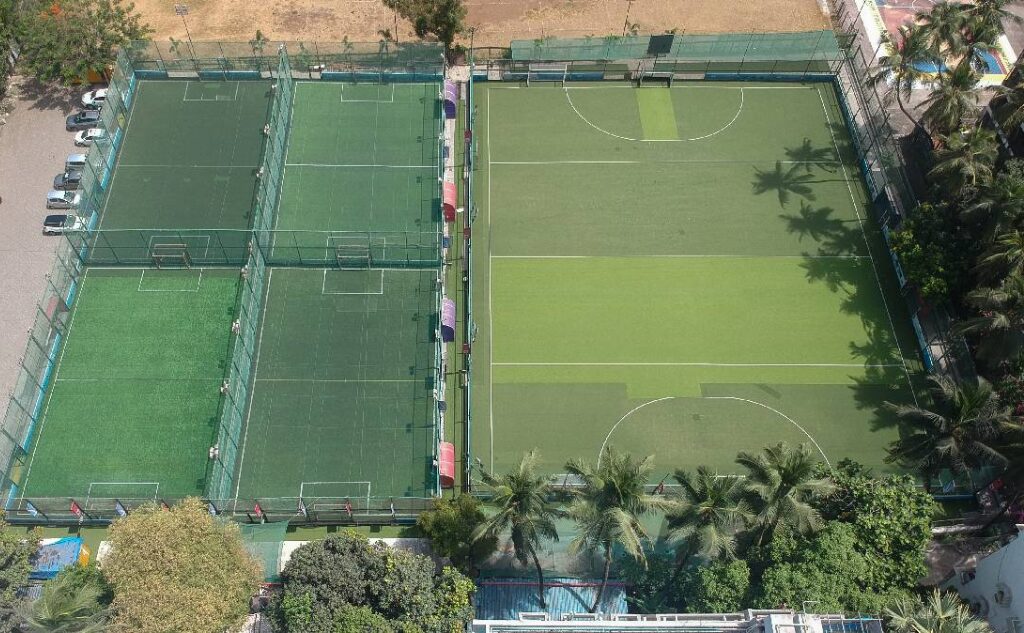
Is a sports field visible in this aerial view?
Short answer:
Yes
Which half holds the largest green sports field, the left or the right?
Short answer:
right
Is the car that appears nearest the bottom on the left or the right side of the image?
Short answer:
left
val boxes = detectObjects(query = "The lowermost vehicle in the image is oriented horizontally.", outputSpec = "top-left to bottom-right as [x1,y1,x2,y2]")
[39,216,84,237]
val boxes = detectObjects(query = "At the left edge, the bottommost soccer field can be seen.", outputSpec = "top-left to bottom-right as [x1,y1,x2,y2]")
[7,266,266,520]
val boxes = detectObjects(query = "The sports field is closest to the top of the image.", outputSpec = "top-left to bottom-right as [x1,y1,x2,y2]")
[0,0,832,48]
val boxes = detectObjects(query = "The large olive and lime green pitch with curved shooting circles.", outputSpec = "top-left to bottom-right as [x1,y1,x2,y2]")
[471,78,977,507]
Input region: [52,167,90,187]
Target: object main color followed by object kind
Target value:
gray car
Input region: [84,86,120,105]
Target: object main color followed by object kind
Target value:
white car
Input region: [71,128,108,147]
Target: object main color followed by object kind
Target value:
white car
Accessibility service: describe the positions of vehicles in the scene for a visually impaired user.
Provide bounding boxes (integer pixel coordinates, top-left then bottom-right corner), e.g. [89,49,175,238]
[39,216,84,237]
[67,107,108,128]
[71,128,108,147]
[43,190,84,210]
[84,86,120,105]
[52,167,90,187]
[64,149,102,168]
